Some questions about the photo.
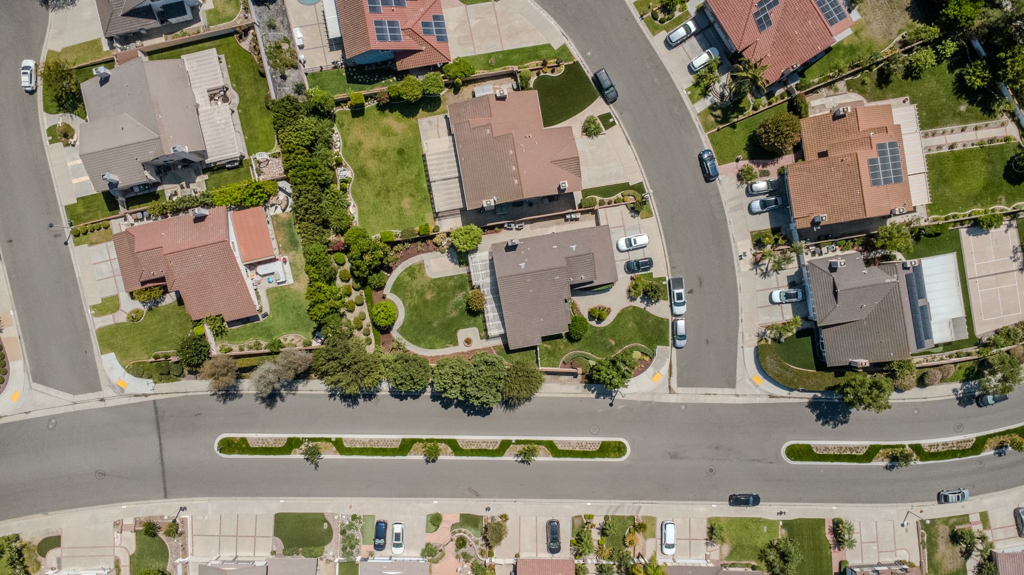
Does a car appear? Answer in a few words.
Yes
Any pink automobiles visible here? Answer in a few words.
No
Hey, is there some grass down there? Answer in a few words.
Yes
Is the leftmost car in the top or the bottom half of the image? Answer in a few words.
top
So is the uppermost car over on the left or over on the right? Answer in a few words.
right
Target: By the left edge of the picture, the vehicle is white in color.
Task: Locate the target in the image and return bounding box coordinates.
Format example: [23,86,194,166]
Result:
[19,59,40,93]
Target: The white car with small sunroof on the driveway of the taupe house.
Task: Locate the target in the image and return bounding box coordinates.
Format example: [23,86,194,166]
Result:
[616,234,650,251]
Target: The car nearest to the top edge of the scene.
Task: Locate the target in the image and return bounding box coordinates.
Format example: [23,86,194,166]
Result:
[664,20,698,46]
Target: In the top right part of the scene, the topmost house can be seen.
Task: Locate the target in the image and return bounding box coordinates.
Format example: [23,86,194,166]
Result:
[693,0,854,92]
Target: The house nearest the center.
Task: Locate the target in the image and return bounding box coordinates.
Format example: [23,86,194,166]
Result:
[491,225,618,350]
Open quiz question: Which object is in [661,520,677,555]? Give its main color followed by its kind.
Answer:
white car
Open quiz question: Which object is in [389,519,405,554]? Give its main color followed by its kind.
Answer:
white car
